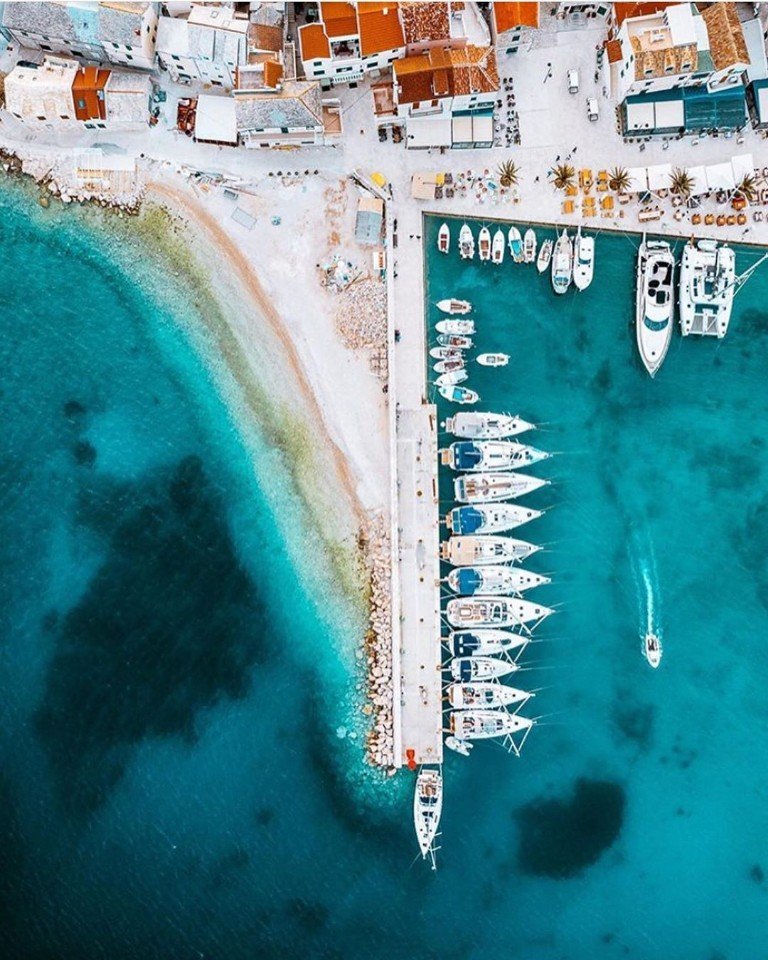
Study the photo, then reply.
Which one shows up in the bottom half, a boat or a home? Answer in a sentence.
There is a boat in the bottom half.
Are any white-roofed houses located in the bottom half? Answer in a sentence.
No, the scene shows no white-roofed house in the bottom half.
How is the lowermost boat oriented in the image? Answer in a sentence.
In this picture, the lowermost boat is oriented from top to bottom.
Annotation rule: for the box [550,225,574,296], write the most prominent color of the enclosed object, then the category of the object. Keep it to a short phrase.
white boat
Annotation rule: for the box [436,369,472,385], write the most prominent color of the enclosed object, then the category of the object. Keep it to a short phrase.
white boat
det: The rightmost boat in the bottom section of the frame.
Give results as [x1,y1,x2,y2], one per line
[645,632,660,668]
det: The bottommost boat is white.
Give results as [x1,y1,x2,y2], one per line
[409,763,446,884]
